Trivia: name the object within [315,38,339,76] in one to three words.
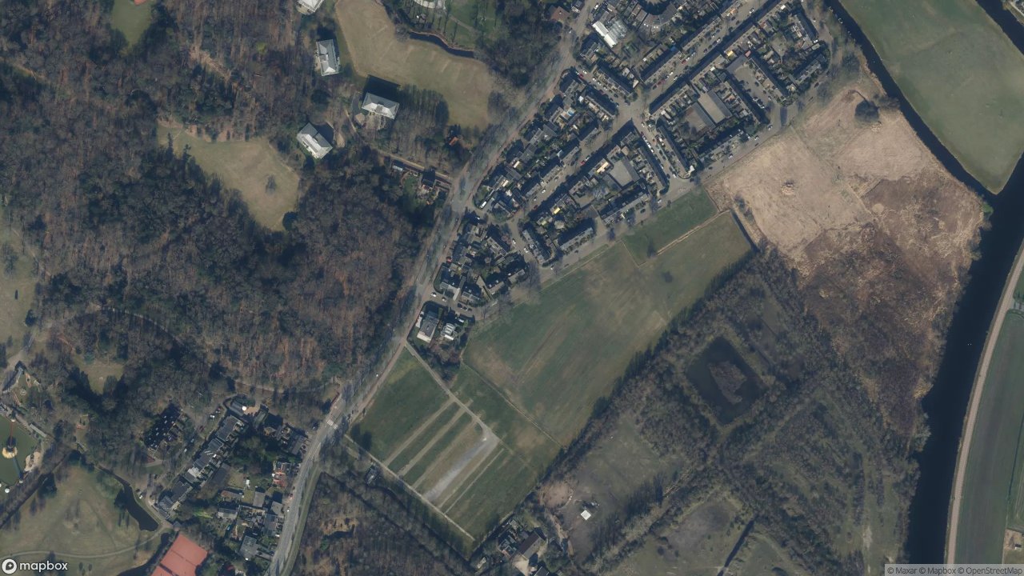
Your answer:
building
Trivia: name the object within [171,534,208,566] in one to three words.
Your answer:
tennis court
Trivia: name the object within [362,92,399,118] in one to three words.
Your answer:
building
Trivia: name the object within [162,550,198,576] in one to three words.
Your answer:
tennis court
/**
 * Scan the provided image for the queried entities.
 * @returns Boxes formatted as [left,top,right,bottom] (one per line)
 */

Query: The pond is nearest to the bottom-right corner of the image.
[687,338,766,424]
